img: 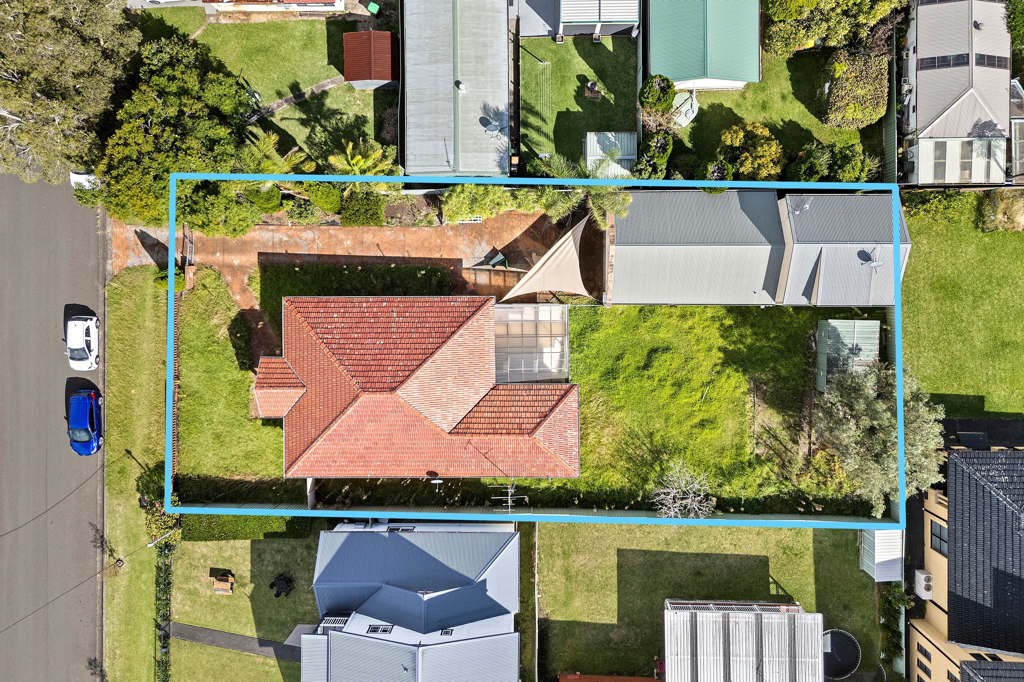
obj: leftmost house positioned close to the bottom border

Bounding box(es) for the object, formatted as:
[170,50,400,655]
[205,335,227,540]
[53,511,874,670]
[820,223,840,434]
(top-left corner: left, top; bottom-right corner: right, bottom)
[299,523,524,682]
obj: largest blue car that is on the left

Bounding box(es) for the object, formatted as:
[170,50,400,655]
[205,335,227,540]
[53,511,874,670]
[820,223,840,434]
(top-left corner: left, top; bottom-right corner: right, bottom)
[63,392,102,458]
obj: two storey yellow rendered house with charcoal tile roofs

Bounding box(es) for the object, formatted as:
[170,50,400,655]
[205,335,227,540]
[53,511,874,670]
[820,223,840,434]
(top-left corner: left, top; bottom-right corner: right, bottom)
[914,446,1024,682]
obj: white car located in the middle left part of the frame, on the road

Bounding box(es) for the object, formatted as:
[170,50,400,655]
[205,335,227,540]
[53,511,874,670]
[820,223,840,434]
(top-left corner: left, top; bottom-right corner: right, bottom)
[61,318,98,373]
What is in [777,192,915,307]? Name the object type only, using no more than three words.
house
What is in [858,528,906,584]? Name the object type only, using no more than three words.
shed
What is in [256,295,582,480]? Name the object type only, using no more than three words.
house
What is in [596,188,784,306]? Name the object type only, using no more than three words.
building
